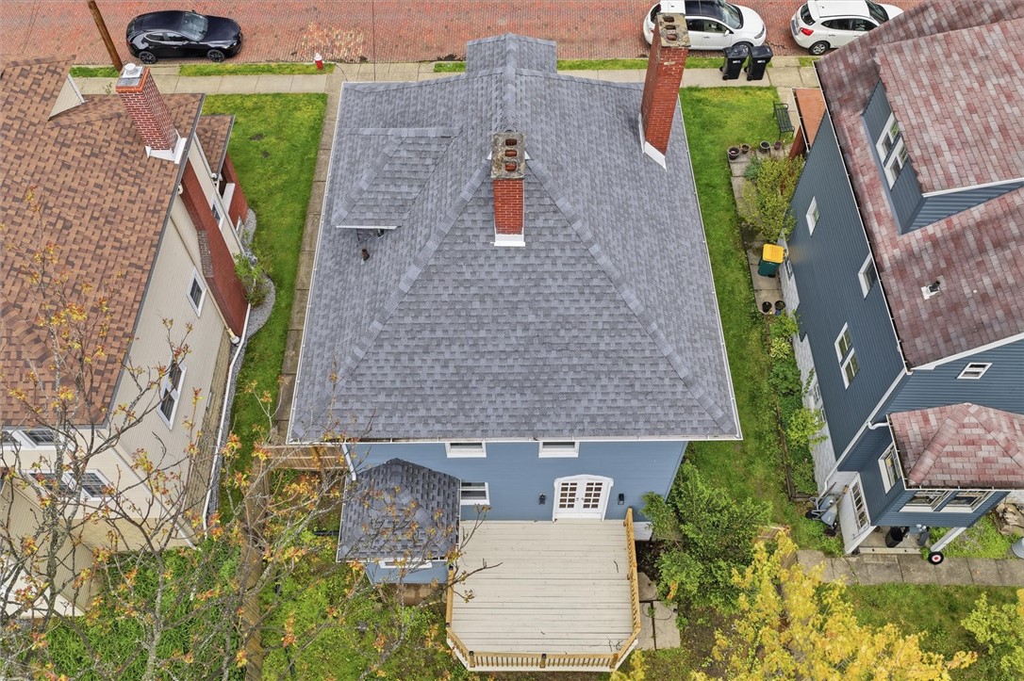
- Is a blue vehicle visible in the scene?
No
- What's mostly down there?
buildings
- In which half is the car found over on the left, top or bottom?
top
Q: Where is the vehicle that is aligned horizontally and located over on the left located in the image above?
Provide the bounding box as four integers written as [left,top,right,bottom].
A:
[126,8,245,62]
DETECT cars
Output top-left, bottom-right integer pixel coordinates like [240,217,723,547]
[647,2,765,54]
[786,0,892,58]
[126,8,245,62]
